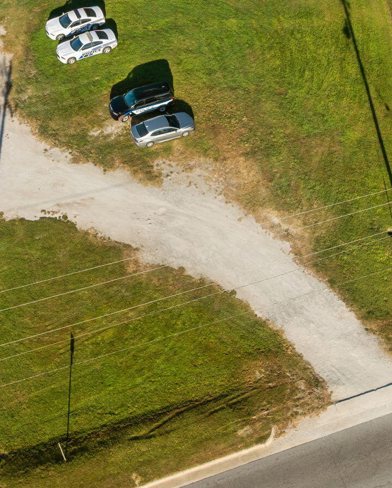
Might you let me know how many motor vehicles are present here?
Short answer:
4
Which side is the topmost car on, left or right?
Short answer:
left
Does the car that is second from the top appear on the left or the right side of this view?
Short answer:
left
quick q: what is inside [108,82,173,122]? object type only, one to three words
car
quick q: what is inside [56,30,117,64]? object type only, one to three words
car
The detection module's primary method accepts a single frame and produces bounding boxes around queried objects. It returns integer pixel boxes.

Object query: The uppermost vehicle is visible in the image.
[45,9,105,40]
